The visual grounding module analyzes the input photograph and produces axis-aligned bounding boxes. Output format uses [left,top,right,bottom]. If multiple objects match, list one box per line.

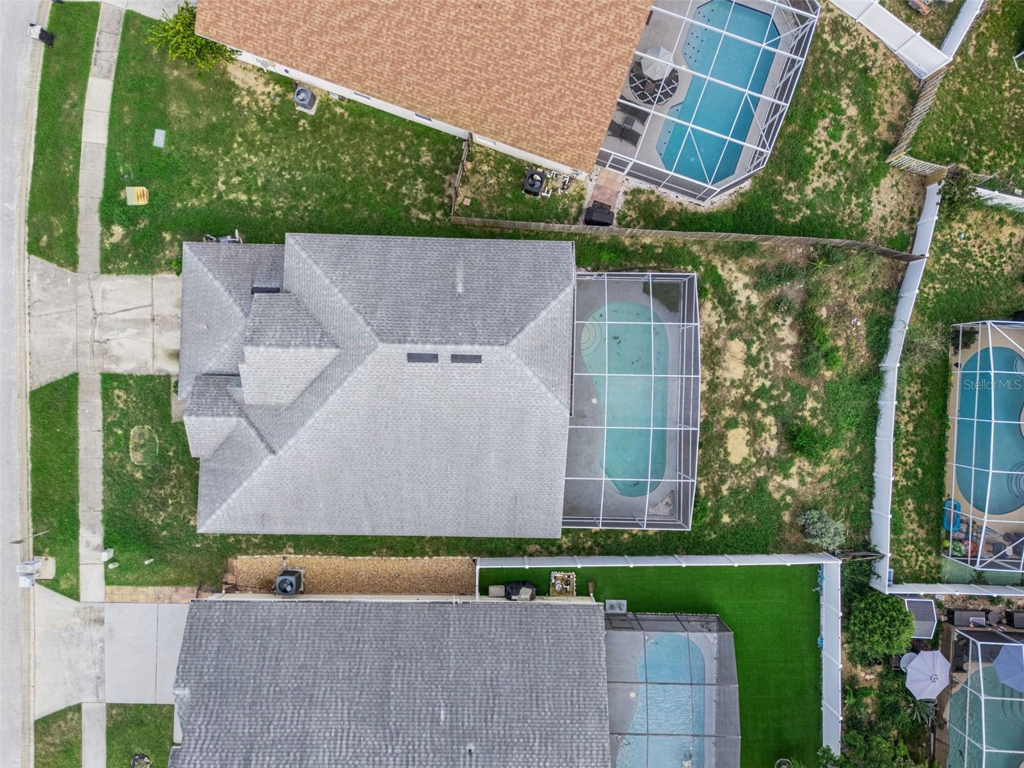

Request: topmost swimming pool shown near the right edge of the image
[988,343,1023,518]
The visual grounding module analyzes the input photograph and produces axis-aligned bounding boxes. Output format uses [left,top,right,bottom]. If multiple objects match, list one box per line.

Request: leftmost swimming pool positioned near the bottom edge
[613,632,709,768]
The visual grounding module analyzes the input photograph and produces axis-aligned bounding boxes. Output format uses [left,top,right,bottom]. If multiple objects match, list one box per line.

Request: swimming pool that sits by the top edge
[653,0,784,187]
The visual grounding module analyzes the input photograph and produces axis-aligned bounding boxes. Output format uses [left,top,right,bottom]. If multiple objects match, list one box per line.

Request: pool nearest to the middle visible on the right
[577,298,673,500]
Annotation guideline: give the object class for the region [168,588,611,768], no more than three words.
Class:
house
